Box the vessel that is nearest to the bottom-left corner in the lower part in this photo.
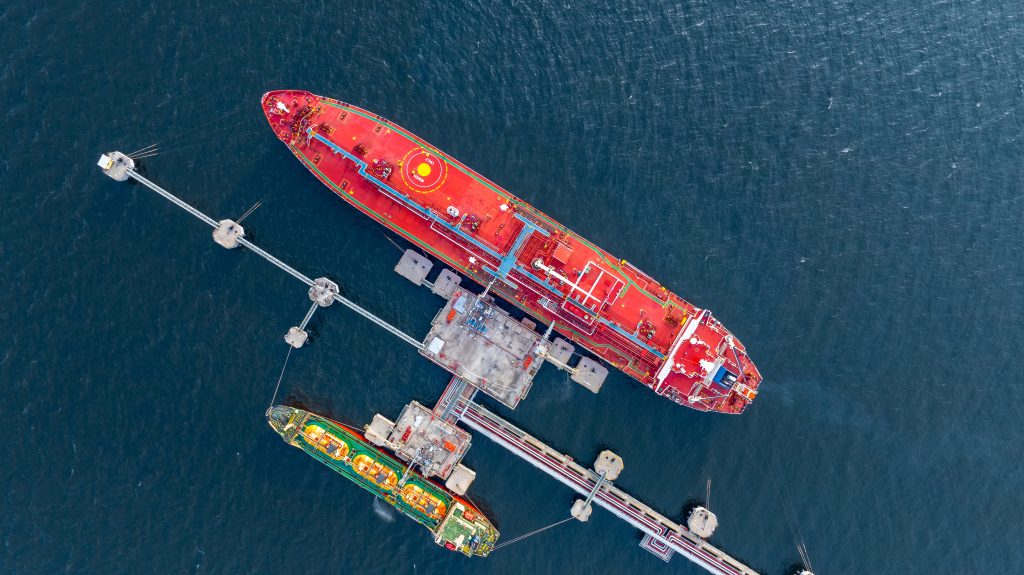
[264,404,501,556]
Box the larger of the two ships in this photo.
[260,87,765,413]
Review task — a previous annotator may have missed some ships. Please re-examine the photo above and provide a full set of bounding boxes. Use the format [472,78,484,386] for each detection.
[260,87,765,413]
[264,404,501,556]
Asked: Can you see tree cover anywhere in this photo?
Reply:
No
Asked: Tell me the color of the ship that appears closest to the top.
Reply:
red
